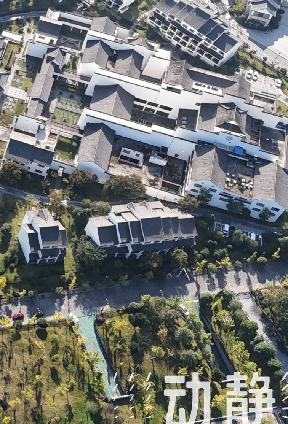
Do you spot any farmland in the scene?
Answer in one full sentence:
No, farmland can't be seen anywhere here.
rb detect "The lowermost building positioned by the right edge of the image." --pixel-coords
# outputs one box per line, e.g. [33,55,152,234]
[246,161,288,221]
